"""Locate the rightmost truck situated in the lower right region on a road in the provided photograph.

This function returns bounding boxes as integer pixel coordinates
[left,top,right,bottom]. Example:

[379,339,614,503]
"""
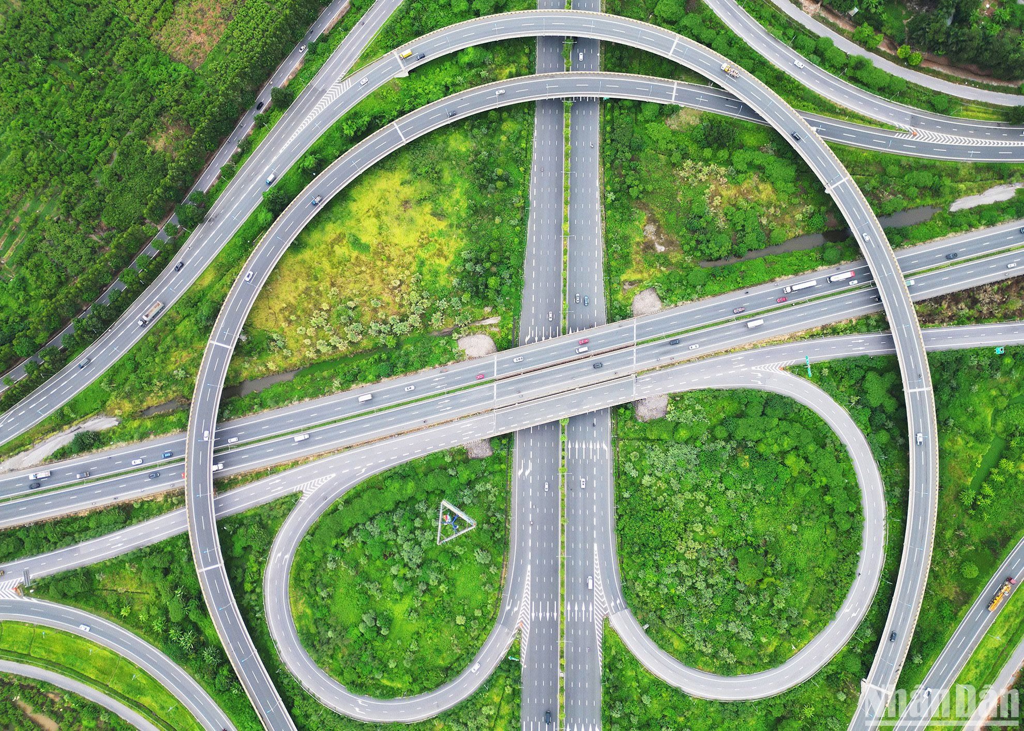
[990,581,1015,610]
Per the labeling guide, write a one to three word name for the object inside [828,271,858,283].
vehicle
